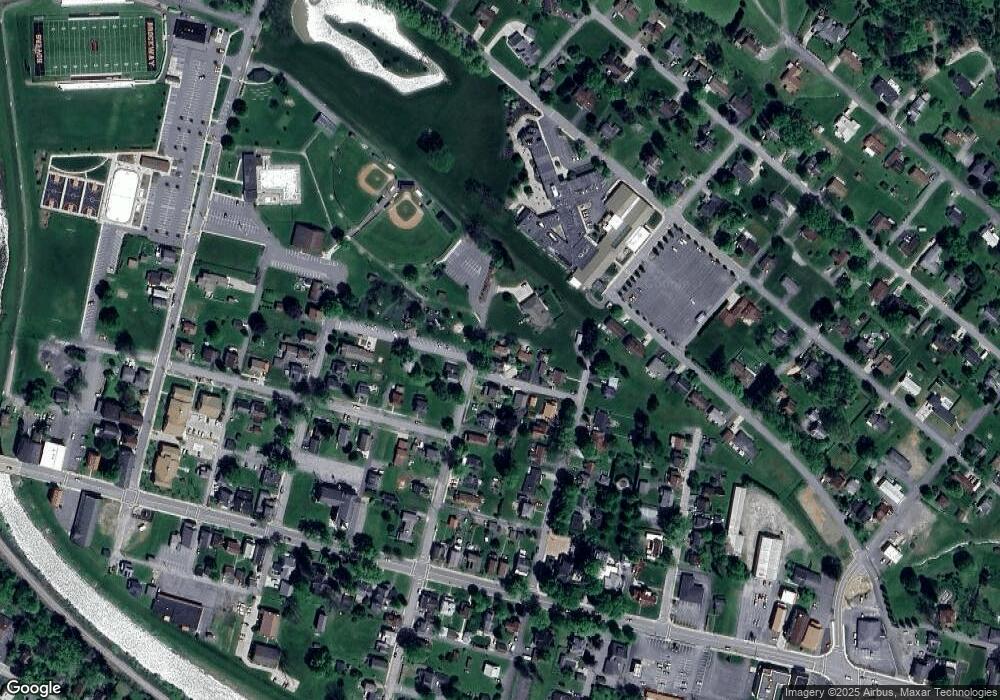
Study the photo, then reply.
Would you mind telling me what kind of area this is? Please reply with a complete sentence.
It's a residential area.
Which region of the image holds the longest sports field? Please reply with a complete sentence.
The longest sports field appears toward the top left of the photo.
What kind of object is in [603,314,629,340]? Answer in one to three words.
house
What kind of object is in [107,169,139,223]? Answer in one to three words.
sports court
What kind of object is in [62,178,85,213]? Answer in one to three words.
basketball court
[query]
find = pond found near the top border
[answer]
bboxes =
[308,0,445,94]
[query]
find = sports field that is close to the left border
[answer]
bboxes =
[26,13,162,82]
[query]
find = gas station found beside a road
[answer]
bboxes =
[857,614,885,648]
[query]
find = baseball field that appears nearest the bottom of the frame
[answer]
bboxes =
[357,191,444,266]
